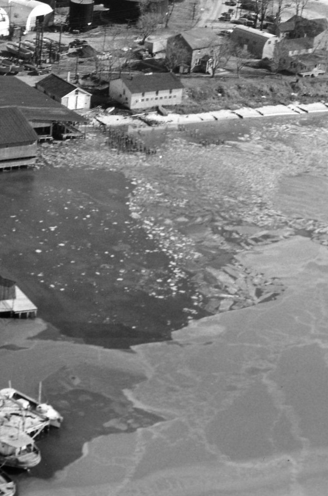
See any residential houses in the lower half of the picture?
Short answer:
No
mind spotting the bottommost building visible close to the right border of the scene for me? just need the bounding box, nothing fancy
[270,44,322,74]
